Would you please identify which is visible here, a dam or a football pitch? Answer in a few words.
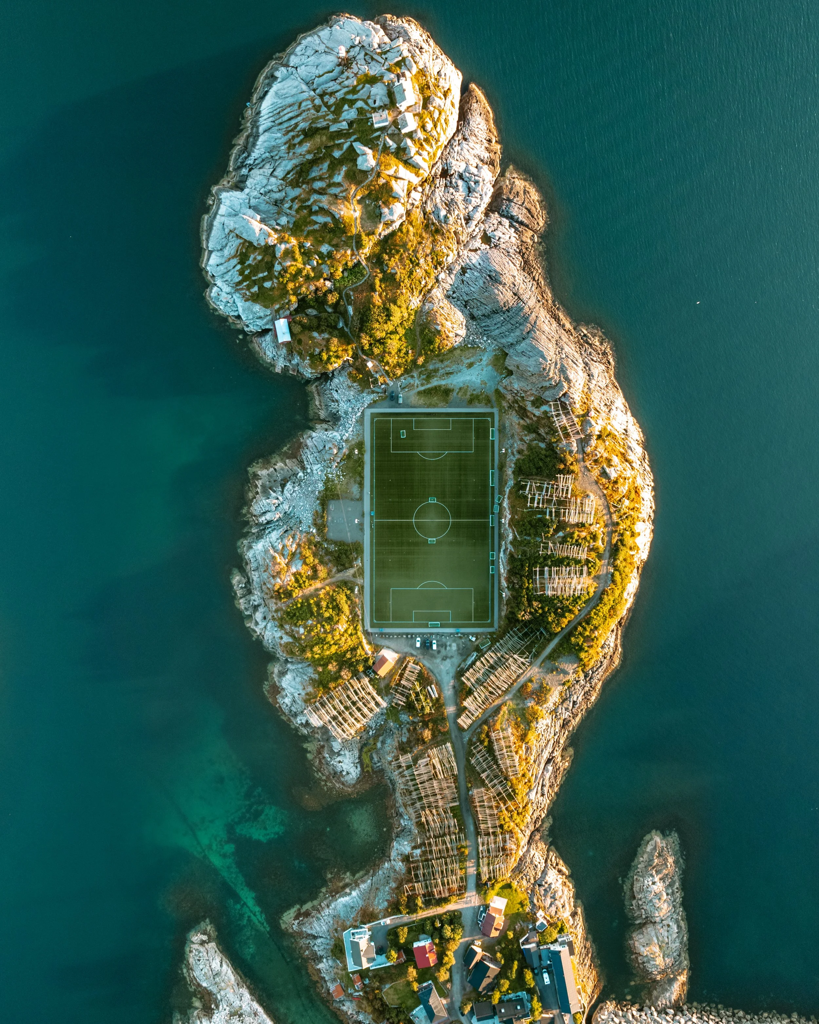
football pitch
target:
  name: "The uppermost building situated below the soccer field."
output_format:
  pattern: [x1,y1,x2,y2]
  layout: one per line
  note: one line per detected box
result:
[371,648,398,678]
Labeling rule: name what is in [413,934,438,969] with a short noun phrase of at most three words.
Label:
house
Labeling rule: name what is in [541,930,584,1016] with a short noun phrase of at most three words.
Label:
house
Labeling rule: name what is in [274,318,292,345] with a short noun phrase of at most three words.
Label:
shed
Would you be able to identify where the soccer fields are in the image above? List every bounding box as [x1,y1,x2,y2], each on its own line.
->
[370,412,494,628]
